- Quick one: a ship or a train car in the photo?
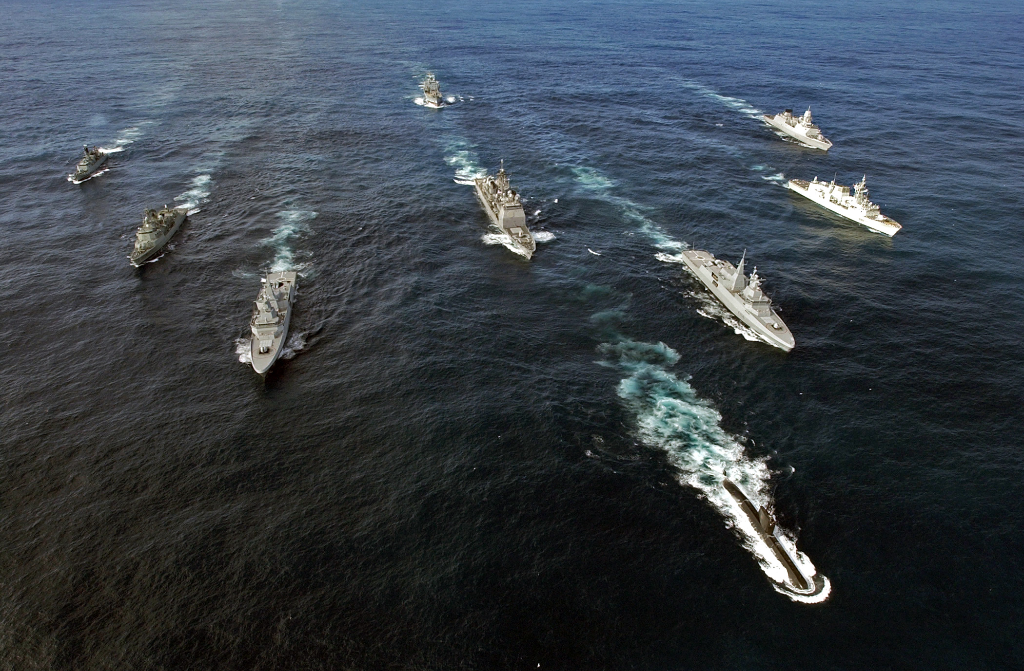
ship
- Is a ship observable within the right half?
Yes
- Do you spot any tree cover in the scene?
No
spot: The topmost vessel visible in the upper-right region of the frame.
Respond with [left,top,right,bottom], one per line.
[760,107,833,152]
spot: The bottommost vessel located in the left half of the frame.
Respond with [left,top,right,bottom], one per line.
[249,269,296,383]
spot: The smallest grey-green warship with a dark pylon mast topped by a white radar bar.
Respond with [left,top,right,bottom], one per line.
[74,145,112,180]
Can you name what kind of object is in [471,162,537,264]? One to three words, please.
vessel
